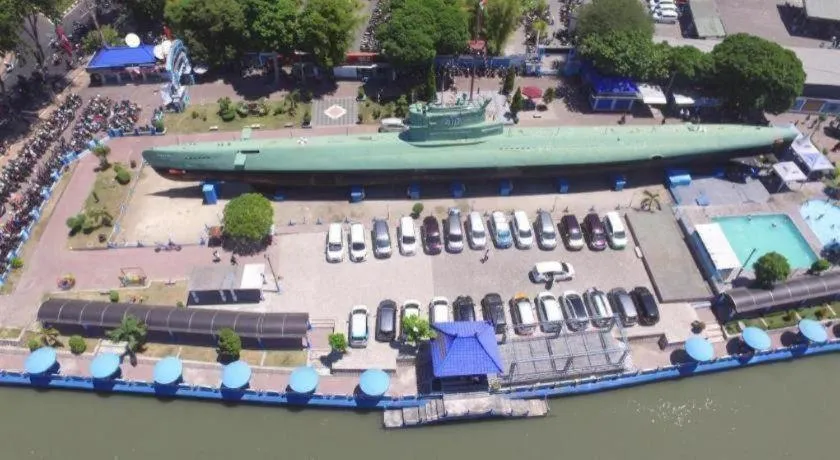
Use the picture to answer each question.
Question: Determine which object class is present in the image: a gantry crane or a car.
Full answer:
It is a car that can be seen here.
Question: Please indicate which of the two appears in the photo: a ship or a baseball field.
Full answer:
The image shows a ship.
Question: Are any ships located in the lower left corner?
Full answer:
No, I see no ship in the lower left corner.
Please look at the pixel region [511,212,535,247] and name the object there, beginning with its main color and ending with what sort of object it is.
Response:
white car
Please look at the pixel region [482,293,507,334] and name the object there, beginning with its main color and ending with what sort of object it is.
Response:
gray car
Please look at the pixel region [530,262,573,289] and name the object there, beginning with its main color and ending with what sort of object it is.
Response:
white car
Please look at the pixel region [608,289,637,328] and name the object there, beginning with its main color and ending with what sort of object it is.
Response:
gray car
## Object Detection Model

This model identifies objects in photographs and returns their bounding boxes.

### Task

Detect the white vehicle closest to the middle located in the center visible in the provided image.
[398,218,418,255]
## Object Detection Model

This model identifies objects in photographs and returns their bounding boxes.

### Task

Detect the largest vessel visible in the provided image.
[144,67,796,189]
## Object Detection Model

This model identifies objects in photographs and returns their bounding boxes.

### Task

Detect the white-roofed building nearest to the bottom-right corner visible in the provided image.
[690,222,745,284]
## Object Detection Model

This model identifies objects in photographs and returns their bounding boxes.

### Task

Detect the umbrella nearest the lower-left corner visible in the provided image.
[28,348,61,377]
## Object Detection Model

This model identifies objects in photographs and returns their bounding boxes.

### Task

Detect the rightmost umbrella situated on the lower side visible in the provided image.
[794,319,827,347]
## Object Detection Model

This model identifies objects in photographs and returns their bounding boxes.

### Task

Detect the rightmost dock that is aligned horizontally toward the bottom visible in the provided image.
[384,394,550,430]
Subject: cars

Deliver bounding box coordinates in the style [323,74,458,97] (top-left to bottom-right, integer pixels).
[511,212,535,247]
[428,298,450,324]
[602,212,628,247]
[533,212,559,248]
[655,2,676,13]
[347,310,369,345]
[444,215,466,251]
[537,294,564,333]
[422,218,443,254]
[580,214,607,250]
[451,294,475,322]
[374,302,397,344]
[583,289,614,330]
[324,224,345,261]
[608,289,637,328]
[562,292,590,332]
[372,221,392,257]
[530,262,573,289]
[400,303,422,337]
[629,288,661,327]
[662,11,678,25]
[347,224,368,261]
[398,218,418,255]
[489,212,512,248]
[467,212,488,248]
[559,215,585,251]
[482,293,507,334]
